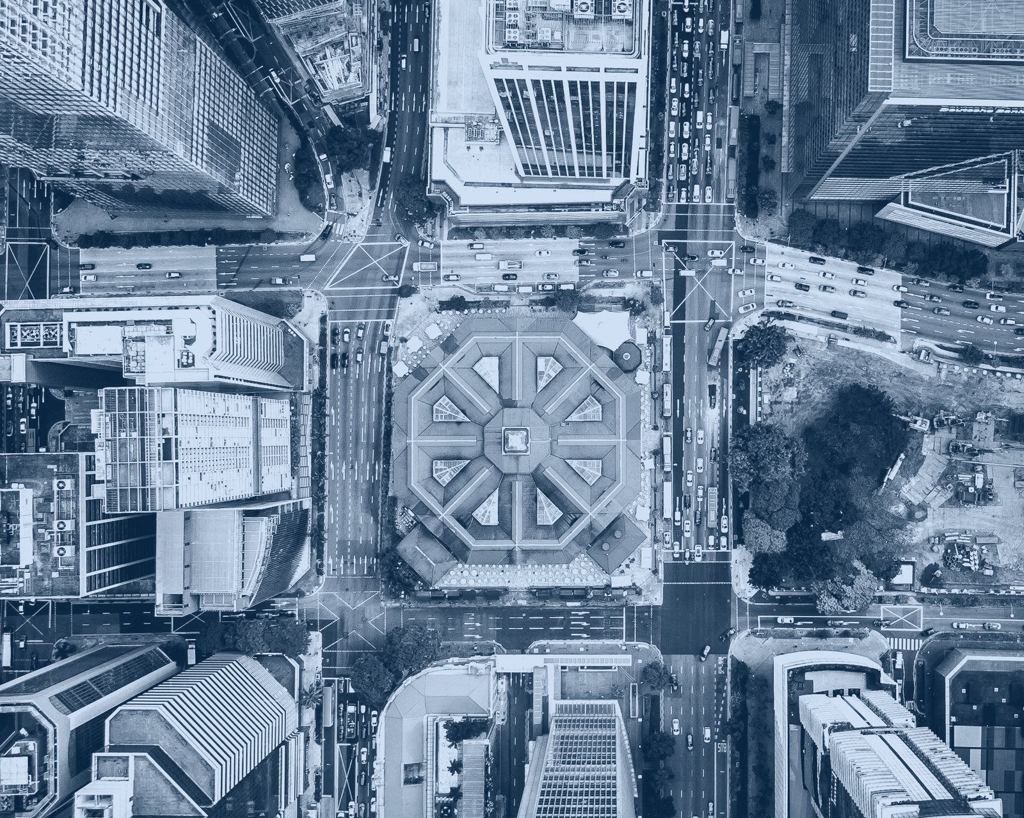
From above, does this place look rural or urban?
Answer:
urban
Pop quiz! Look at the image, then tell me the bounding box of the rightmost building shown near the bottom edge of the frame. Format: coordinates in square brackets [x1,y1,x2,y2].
[925,643,1024,818]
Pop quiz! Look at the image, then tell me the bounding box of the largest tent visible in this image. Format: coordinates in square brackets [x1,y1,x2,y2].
[573,310,635,351]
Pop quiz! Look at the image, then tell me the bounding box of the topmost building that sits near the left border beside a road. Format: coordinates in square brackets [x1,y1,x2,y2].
[0,0,279,217]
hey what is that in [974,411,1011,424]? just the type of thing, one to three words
vehicle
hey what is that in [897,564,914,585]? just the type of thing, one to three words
shed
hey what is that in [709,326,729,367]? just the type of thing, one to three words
bus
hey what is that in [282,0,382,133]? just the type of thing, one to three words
building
